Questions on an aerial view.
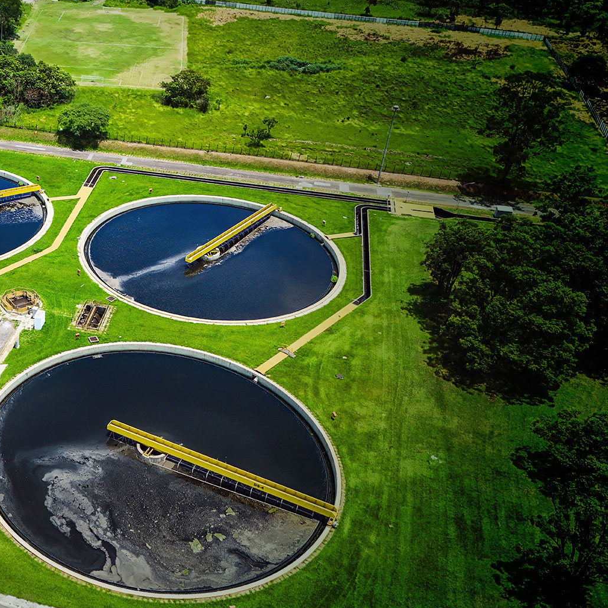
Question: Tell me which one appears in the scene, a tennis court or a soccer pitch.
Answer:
soccer pitch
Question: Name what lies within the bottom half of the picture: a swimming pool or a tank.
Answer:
tank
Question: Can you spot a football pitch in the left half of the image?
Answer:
Yes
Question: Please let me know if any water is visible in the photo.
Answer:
Yes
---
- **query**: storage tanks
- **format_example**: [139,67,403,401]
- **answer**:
[0,170,53,262]
[0,342,346,607]
[75,194,348,329]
